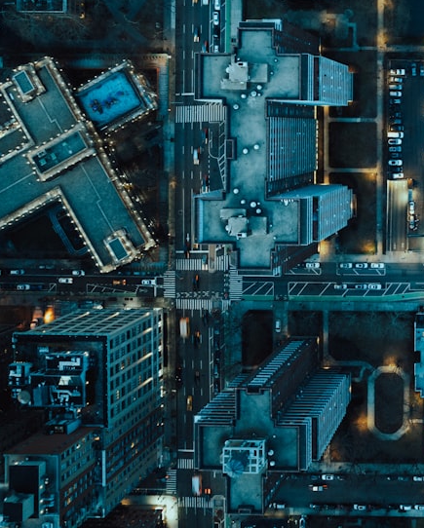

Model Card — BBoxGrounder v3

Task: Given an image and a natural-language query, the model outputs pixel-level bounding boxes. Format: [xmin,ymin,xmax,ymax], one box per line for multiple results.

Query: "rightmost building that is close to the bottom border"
[196,338,351,514]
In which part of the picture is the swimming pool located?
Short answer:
top left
